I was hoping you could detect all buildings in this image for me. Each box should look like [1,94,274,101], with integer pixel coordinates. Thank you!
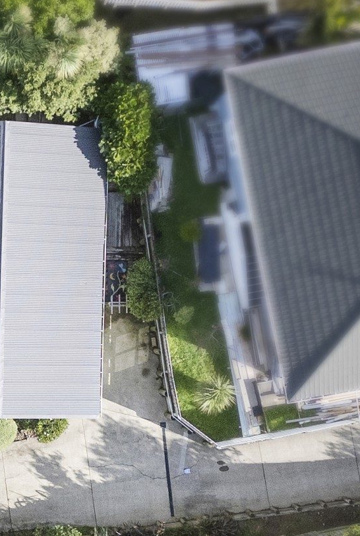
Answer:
[0,118,108,421]
[202,36,360,412]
